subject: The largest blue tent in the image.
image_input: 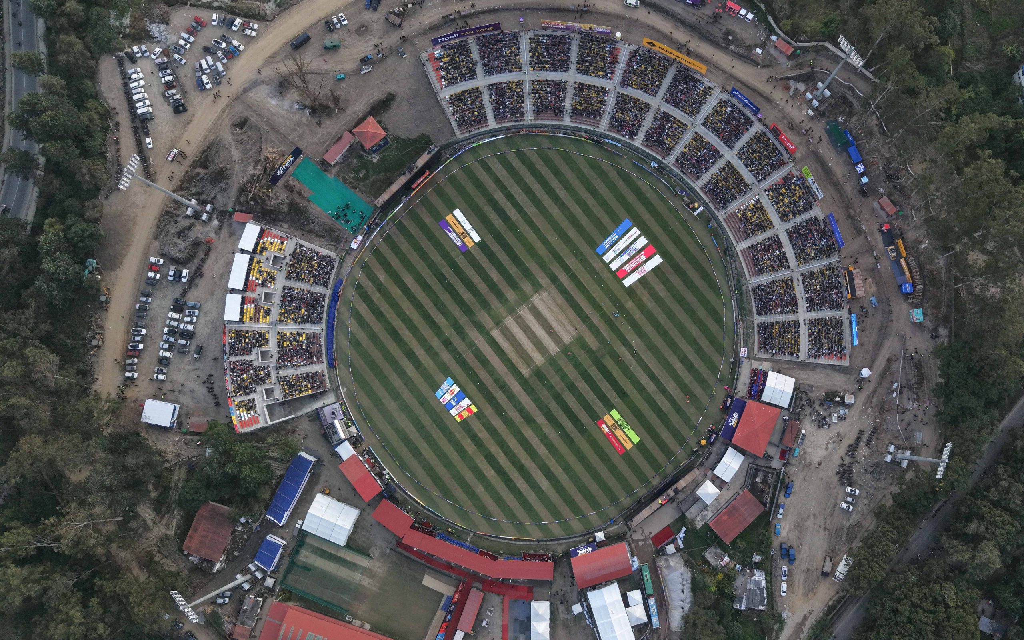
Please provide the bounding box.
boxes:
[265,454,317,526]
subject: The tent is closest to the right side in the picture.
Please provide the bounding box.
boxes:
[761,371,795,409]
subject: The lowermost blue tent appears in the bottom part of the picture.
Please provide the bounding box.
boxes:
[254,536,286,571]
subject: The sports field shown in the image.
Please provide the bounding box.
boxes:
[335,134,735,539]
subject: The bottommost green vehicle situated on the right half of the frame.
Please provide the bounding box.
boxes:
[640,562,653,595]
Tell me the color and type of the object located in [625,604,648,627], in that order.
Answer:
white tent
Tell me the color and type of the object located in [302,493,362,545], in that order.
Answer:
white tent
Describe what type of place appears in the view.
sports ground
